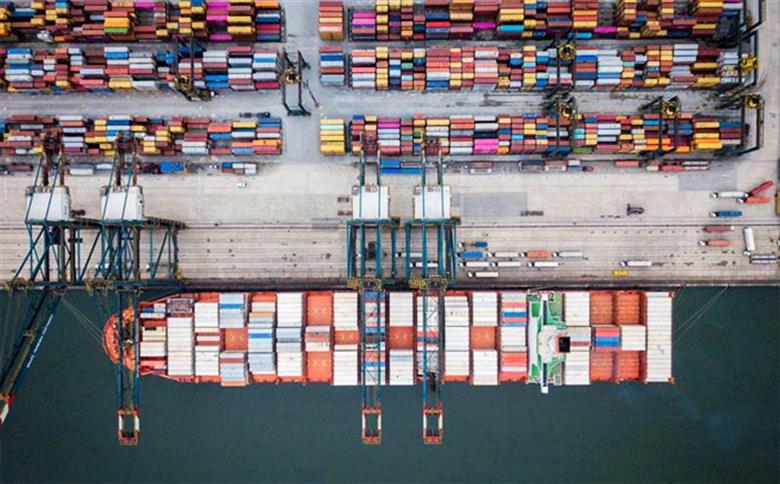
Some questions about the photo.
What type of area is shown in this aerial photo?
port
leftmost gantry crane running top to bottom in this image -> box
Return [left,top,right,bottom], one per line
[0,131,133,444]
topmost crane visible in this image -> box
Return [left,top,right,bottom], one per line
[714,0,766,40]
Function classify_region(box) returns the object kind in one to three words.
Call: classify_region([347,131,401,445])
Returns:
container crane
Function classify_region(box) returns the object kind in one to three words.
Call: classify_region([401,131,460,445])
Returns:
container crane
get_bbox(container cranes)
[174,36,213,105]
[542,34,577,104]
[347,131,401,445]
[0,131,133,444]
[711,93,763,160]
[75,131,197,445]
[542,95,577,160]
[637,94,682,159]
[714,0,766,40]
[401,131,460,445]
[280,49,310,115]
[710,29,762,97]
